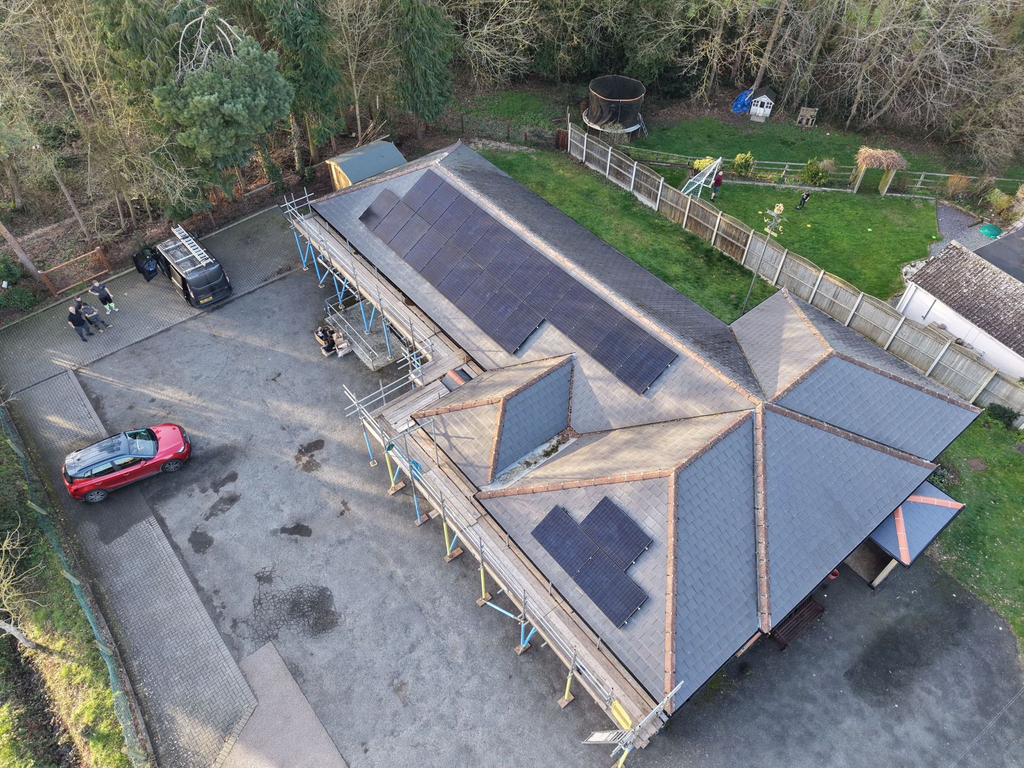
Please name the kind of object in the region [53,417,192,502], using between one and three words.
car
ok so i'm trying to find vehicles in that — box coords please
[53,417,192,502]
[125,222,235,302]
